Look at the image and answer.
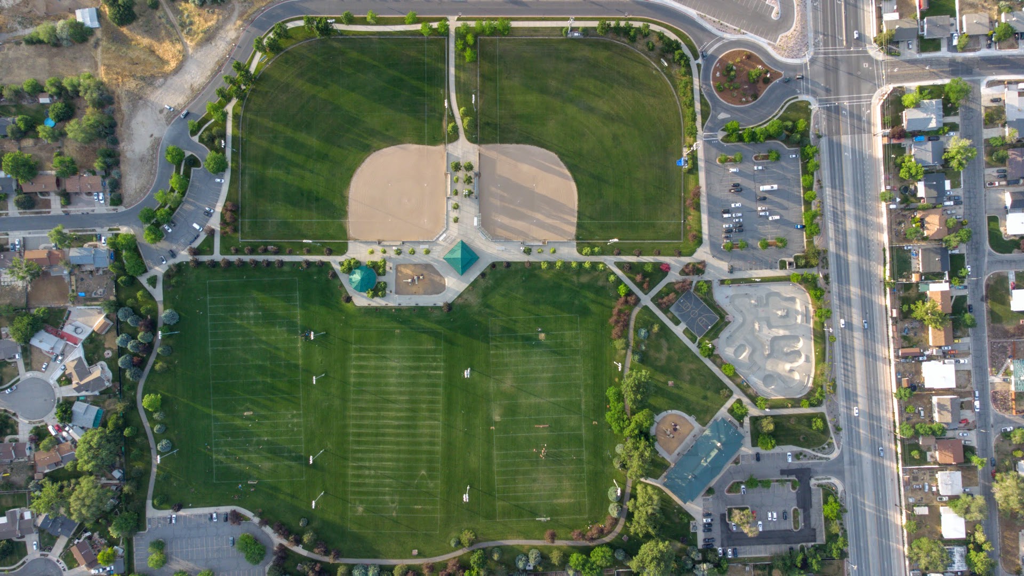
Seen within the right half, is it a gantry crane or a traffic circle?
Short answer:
traffic circle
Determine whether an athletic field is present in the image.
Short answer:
Yes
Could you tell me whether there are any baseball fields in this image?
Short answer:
Yes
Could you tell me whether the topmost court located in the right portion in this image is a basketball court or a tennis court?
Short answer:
basketball court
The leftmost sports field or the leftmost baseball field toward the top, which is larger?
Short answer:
the baseball field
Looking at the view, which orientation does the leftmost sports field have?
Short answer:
from top to bottom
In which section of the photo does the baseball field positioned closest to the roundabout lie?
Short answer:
top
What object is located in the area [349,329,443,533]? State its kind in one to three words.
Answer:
sports field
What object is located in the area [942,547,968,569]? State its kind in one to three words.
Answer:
house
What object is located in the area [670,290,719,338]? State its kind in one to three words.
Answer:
basketball court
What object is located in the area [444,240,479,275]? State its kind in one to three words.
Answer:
building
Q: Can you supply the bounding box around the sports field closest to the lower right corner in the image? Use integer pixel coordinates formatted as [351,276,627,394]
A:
[489,315,587,521]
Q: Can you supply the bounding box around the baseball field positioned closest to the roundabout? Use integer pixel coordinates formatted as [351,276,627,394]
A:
[478,38,682,241]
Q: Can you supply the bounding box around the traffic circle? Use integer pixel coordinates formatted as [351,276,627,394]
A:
[711,48,784,107]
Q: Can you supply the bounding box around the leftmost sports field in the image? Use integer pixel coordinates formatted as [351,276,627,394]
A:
[207,278,304,482]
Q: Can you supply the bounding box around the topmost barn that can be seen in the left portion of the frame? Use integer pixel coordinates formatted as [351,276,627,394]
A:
[77,6,102,29]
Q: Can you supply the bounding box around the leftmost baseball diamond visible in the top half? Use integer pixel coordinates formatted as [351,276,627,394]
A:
[241,37,446,241]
